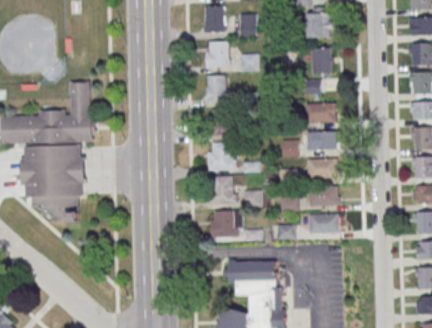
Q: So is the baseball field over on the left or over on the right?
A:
left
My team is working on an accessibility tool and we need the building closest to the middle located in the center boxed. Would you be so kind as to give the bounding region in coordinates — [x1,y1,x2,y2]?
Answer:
[206,142,237,174]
